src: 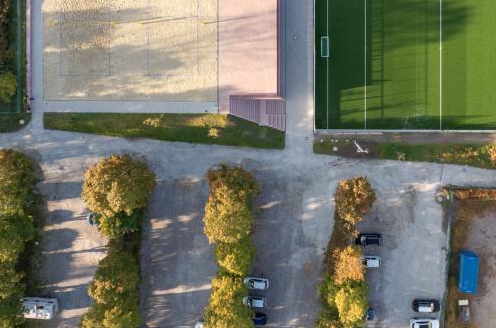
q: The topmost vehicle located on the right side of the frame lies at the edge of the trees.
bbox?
[354,231,383,246]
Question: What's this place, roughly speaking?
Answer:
sports ground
